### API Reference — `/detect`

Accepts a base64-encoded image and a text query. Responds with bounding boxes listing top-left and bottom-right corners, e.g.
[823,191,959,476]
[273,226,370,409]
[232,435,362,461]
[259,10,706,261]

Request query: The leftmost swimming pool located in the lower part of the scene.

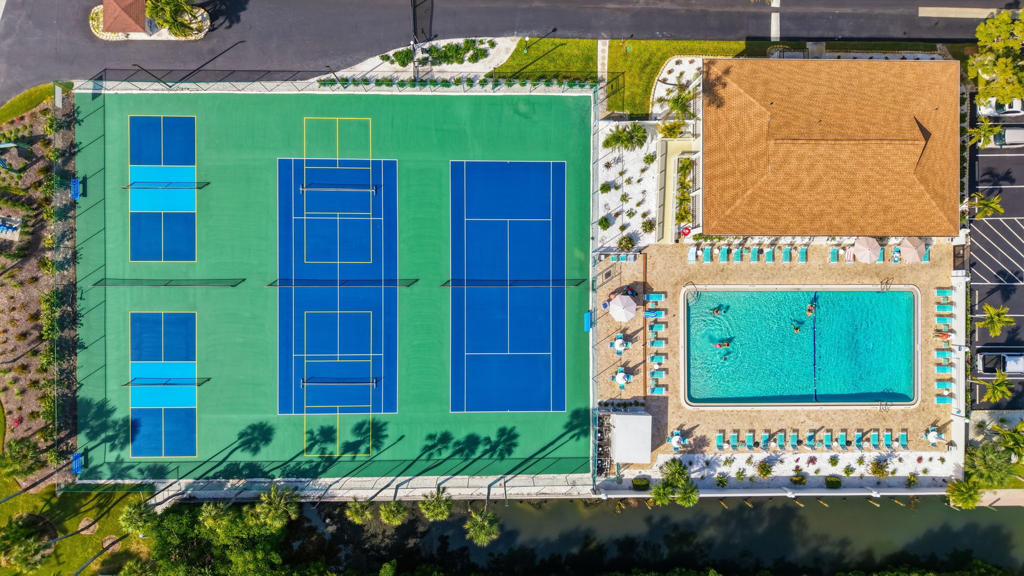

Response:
[680,282,921,414]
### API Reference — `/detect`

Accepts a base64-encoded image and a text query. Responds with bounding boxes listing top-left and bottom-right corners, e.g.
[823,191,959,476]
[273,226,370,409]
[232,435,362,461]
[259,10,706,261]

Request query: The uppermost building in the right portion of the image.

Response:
[690,58,961,237]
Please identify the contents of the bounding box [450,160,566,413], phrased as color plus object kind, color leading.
blue tennis court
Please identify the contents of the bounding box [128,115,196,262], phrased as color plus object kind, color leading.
blue sports court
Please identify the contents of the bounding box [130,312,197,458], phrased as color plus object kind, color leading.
blue sports court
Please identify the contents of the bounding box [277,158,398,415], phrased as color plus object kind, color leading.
blue tennis court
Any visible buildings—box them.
[103,0,153,34]
[601,410,651,463]
[690,58,961,237]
